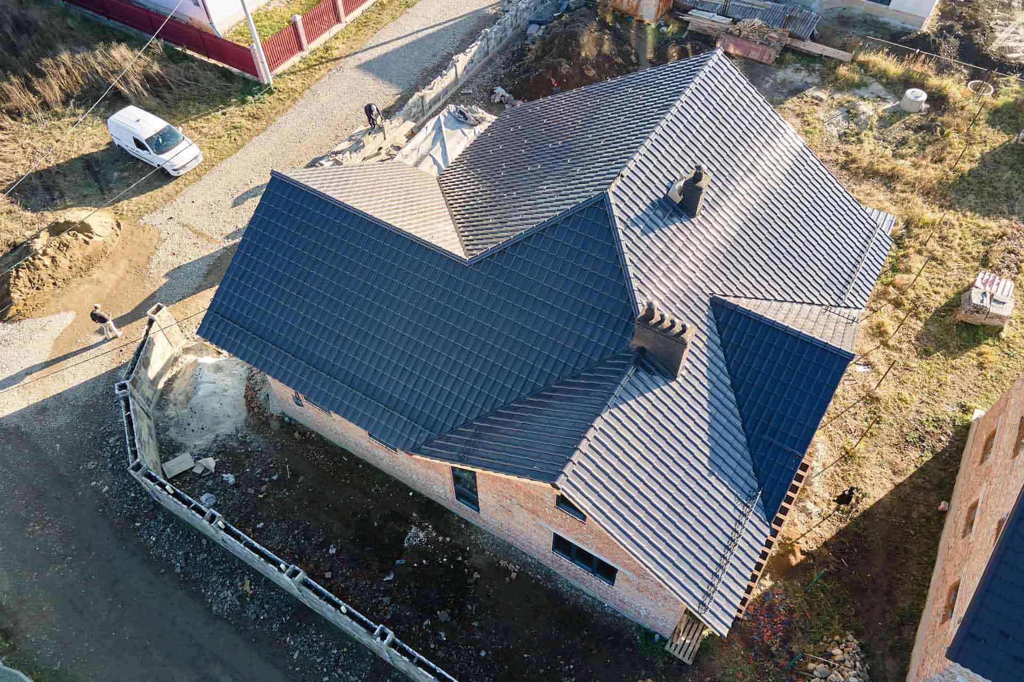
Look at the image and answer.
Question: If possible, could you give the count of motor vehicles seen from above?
1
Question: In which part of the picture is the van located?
top left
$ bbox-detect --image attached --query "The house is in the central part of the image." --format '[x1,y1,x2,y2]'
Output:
[196,43,896,640]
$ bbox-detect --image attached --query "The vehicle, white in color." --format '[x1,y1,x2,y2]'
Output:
[107,110,200,179]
